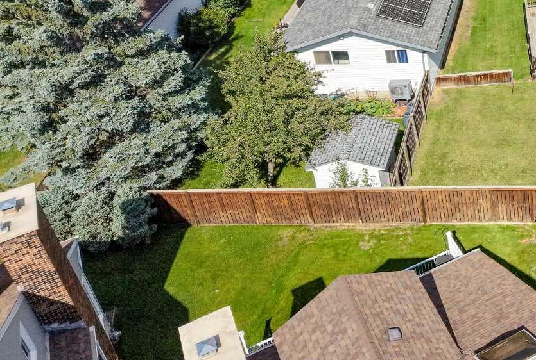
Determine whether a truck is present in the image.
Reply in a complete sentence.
No, I find no truck anywhere in the image.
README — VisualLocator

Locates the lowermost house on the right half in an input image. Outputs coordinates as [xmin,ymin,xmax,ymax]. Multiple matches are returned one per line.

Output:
[243,234,536,360]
